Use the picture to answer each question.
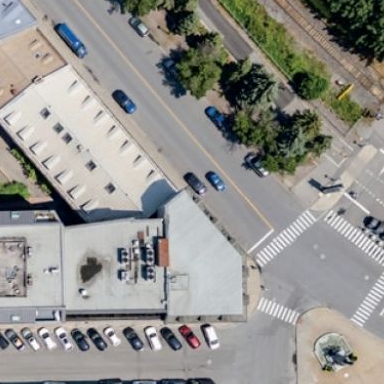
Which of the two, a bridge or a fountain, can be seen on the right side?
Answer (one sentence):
There is a fountain on the right side.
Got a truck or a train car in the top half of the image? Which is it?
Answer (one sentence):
It is a truck that can be seen in the top half of the image.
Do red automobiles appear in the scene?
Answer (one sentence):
Yes, you can see a red automobile in this photo.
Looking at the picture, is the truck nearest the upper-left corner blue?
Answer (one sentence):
Yes, the truck nearest the upper-left corner is indeed blue.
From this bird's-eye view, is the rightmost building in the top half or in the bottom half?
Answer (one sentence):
The bottom half of the photo is where the rightmost building is.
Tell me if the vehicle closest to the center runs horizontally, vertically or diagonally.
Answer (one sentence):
In this picture, the vehicle closest to the center is oriented diagonally.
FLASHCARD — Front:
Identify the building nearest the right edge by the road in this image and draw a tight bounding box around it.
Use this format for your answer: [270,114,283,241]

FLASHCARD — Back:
[154,188,247,320]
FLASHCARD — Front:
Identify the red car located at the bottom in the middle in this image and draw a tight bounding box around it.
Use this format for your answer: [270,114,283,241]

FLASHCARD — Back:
[180,324,200,349]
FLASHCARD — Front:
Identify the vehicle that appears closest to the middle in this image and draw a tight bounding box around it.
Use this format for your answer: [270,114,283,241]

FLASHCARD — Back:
[183,170,207,196]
